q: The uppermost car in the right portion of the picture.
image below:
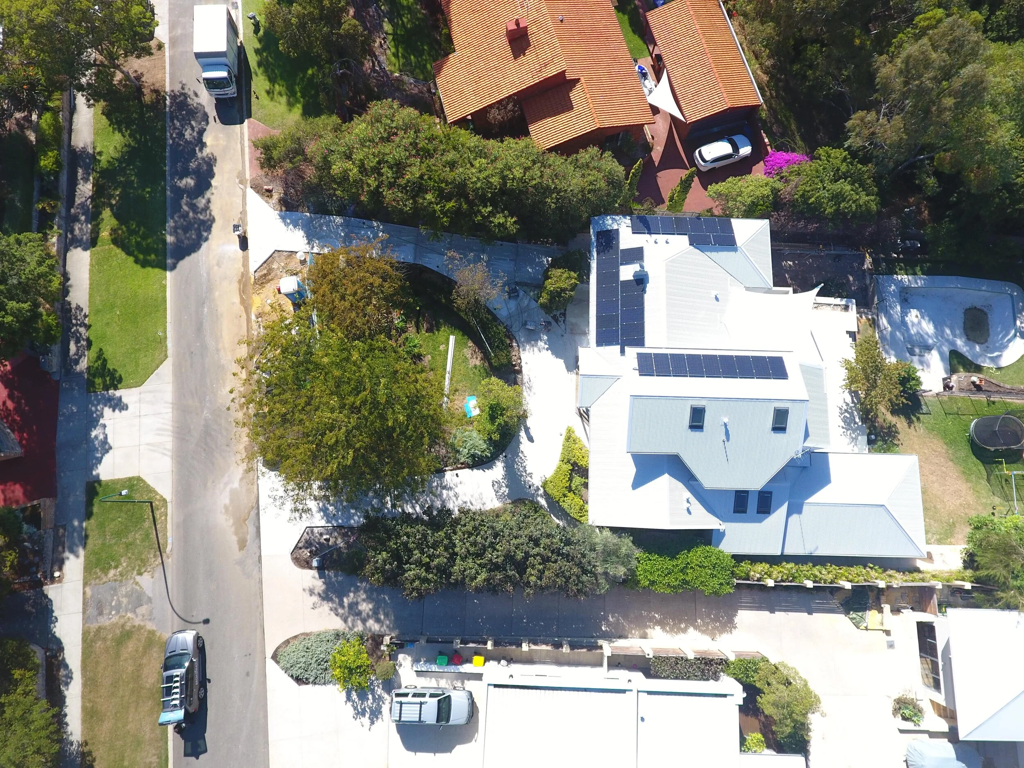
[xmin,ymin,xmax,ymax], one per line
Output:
[690,131,757,175]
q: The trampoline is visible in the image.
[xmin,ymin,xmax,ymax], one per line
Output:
[962,409,1024,452]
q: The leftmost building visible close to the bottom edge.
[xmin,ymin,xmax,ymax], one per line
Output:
[481,651,749,768]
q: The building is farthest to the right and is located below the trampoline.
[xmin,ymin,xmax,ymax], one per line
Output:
[887,606,1024,743]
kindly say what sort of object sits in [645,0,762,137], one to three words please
building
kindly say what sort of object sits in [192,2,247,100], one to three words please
truck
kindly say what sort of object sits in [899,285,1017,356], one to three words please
swimming pool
